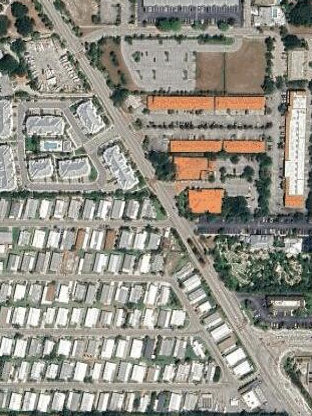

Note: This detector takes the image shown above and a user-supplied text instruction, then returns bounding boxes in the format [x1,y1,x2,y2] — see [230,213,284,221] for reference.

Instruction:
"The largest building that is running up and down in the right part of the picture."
[290,93,305,195]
